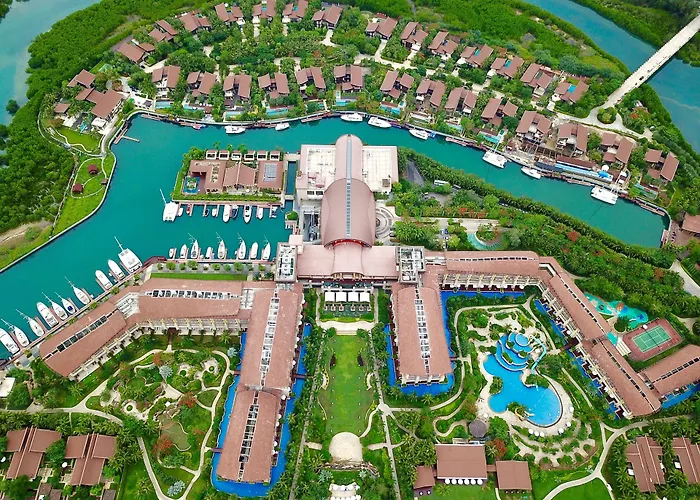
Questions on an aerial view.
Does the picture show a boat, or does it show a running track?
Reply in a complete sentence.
The image shows a boat.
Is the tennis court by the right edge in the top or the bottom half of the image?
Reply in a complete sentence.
The tennis court by the right edge sits in the bottom half of the picture.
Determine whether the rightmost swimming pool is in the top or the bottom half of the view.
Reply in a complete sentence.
The rightmost swimming pool sits in the bottom half of the picture.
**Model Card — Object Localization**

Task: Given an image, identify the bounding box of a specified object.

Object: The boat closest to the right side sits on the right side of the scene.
[592,187,618,205]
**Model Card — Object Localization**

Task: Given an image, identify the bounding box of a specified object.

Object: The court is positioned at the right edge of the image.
[623,316,686,361]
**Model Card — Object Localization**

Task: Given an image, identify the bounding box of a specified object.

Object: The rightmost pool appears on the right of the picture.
[660,380,700,410]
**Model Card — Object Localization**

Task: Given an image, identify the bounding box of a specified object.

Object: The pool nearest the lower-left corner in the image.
[210,323,310,498]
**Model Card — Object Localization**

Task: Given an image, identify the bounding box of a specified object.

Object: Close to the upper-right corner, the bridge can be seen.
[623,10,700,86]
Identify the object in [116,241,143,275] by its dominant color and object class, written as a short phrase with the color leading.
white boat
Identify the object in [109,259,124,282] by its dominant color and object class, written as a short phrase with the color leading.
white boat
